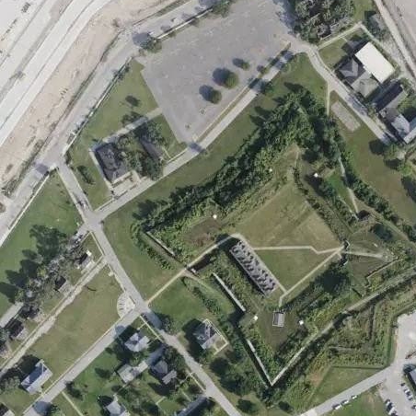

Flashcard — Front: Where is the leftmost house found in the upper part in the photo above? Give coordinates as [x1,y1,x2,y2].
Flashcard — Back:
[94,143,128,181]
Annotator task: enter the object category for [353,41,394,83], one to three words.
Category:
building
